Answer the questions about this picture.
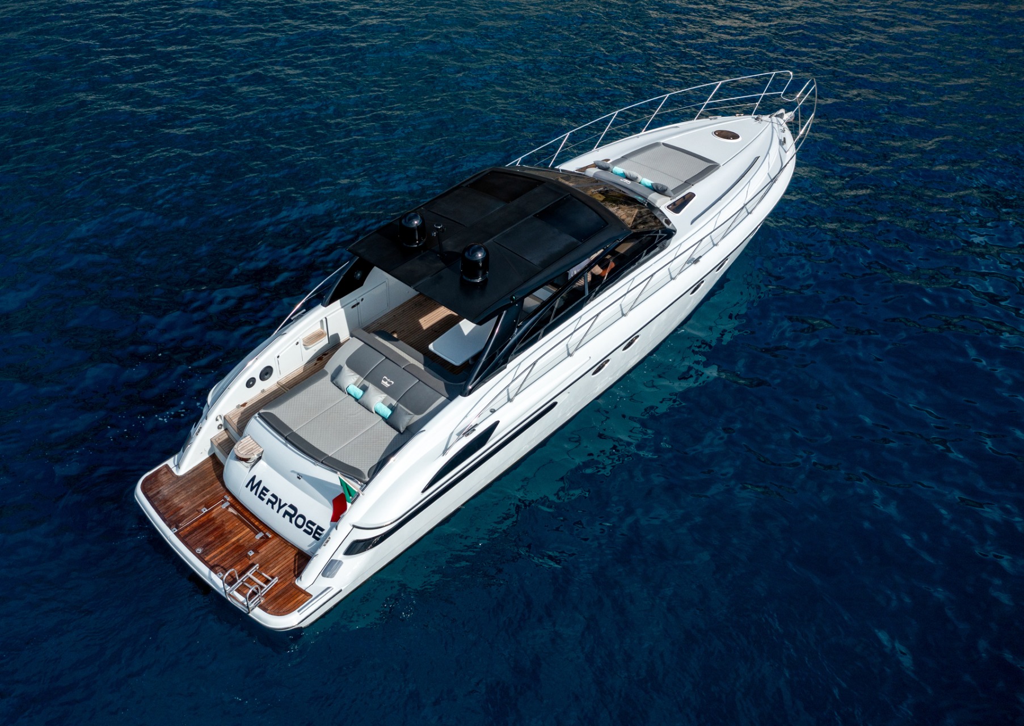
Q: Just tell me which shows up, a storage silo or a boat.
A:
boat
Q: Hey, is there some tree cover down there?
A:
No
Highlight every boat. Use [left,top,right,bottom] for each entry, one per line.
[134,71,817,632]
